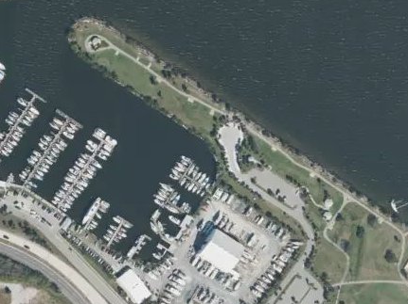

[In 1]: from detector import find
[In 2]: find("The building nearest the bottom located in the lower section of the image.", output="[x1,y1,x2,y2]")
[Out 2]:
[114,268,150,304]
